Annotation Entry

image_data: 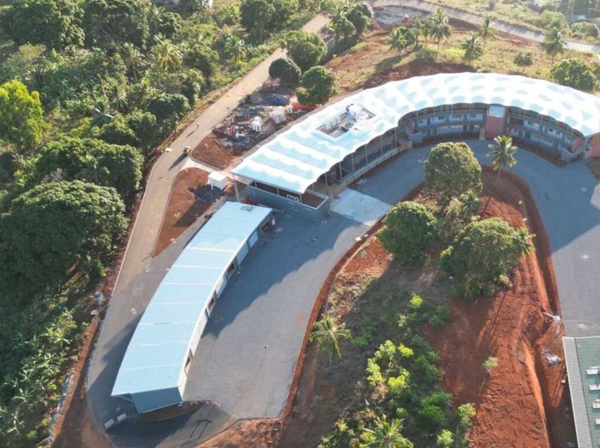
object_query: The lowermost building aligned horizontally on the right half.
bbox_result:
[230,70,600,220]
